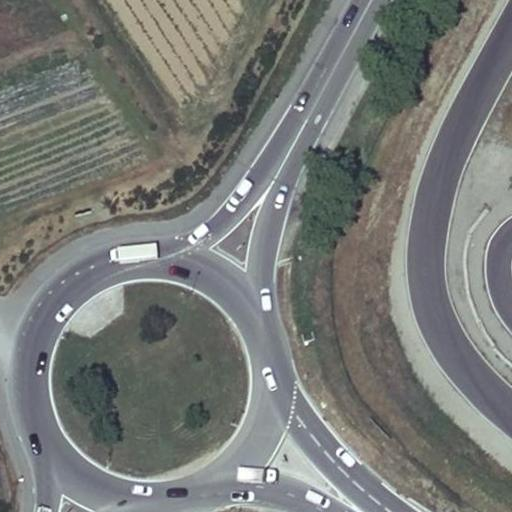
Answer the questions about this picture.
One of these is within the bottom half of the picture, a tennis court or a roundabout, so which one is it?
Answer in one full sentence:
What appears within the bottom half of the picture is a roundabout.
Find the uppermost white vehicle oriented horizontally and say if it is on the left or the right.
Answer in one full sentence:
You can find the uppermost white vehicle oriented horizontally on the left side of the picture.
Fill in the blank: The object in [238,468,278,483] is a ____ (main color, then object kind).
white vehicle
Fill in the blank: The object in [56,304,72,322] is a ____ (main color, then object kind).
white car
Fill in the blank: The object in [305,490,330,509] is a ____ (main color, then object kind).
white vehicle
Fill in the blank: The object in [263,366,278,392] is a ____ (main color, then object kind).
white car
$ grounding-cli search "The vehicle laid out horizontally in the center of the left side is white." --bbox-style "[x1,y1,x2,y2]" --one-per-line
[110,243,159,264]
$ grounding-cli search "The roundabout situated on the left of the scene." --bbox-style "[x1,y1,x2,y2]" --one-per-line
[25,254,277,506]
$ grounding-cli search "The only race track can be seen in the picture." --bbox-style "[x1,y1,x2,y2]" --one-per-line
[406,0,512,438]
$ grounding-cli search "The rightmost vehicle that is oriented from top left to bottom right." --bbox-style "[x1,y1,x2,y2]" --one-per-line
[334,448,354,468]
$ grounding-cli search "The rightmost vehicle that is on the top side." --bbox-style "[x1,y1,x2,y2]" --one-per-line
[342,4,357,26]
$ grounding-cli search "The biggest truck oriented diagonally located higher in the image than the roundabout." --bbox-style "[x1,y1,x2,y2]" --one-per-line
[228,178,253,213]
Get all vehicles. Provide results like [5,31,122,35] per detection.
[274,186,288,210]
[334,448,354,468]
[132,486,152,496]
[295,91,310,112]
[305,490,330,509]
[56,304,72,322]
[169,266,190,279]
[167,487,188,498]
[110,243,159,264]
[232,491,254,502]
[342,4,357,26]
[263,366,278,392]
[260,288,272,312]
[36,352,47,376]
[238,468,278,483]
[228,178,253,213]
[30,433,41,455]
[188,224,208,244]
